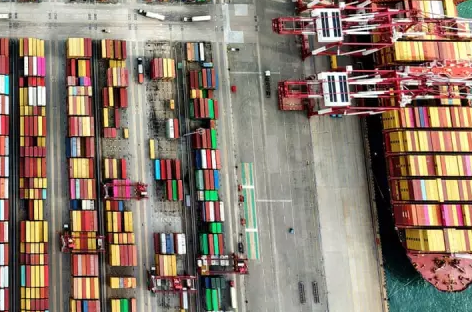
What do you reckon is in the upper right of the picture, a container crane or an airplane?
container crane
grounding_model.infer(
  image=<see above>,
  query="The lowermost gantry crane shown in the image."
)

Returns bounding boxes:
[140,270,198,294]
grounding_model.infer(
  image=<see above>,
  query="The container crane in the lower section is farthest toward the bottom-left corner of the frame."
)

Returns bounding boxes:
[55,231,105,253]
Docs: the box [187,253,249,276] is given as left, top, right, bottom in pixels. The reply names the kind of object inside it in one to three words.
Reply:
container crane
